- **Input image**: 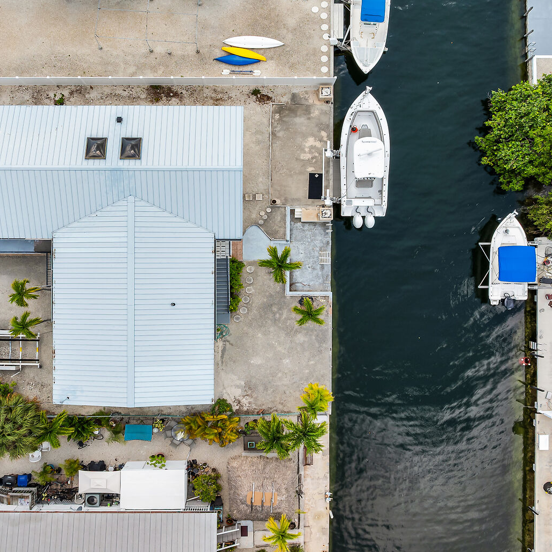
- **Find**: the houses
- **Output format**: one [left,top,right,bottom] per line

[0,457,241,552]
[0,106,243,408]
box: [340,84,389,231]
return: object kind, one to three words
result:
boat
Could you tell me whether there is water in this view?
Yes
